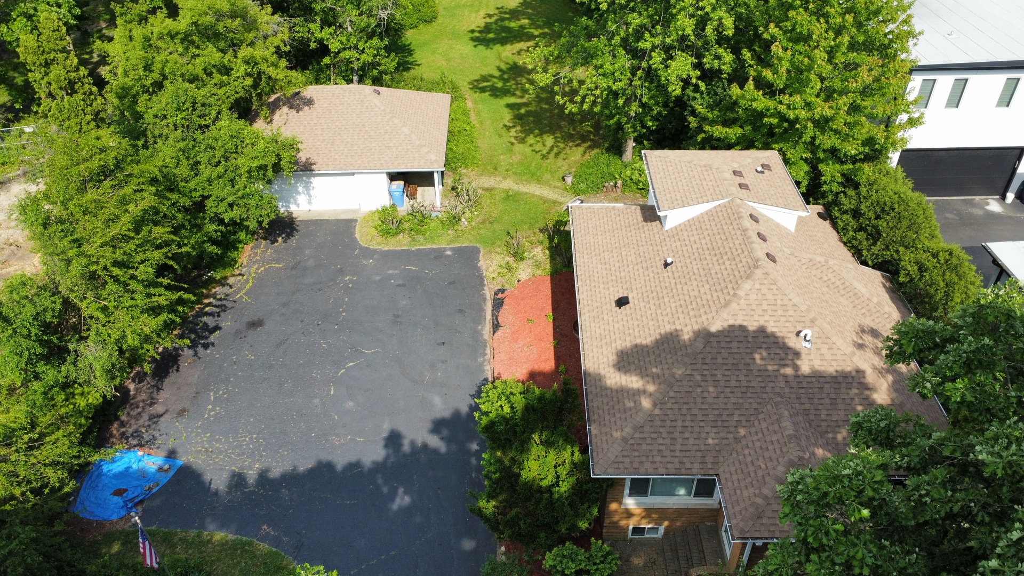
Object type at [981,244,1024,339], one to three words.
shed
